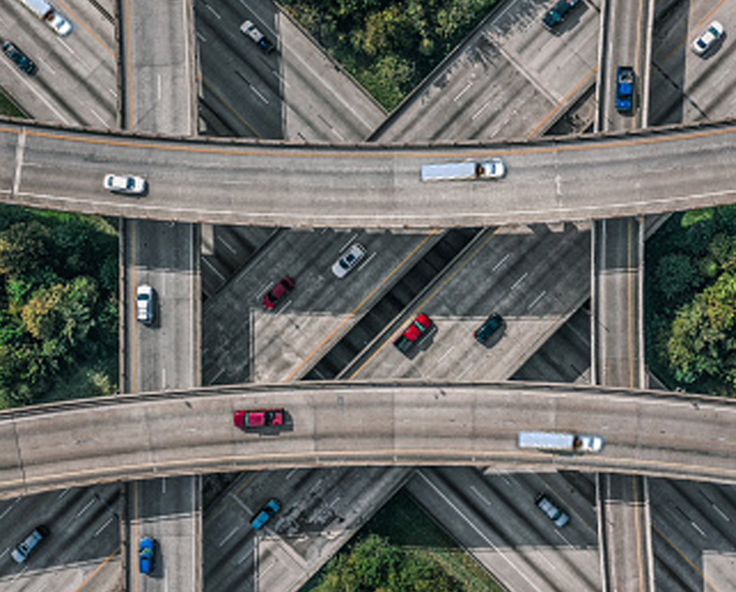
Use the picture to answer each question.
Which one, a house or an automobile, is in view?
automobile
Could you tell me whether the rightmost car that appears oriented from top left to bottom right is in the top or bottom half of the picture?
bottom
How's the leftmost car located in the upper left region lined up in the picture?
diagonally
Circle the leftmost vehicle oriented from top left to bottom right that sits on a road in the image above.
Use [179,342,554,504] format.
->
[1,40,36,74]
